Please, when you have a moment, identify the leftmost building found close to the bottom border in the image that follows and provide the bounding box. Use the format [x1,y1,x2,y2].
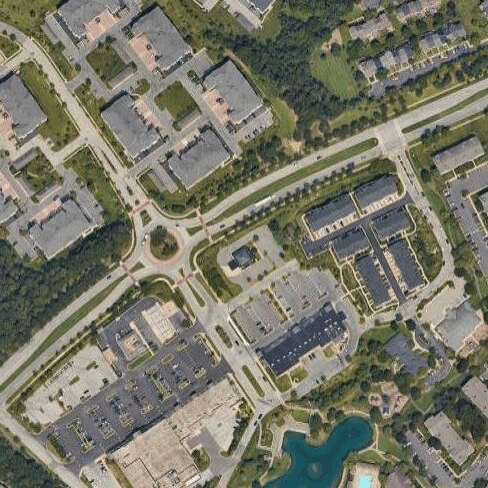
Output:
[105,419,201,488]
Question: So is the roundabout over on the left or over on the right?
left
